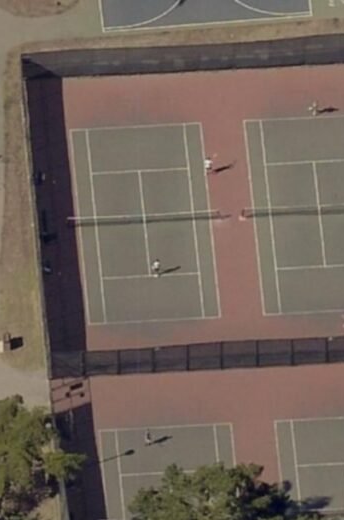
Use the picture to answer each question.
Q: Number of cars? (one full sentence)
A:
I count no cars.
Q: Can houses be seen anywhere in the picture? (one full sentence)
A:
No, the frame has no house in it.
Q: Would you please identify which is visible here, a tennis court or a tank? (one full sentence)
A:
There is a tennis court in the scene.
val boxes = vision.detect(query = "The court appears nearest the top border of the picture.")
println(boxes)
[99,0,313,31]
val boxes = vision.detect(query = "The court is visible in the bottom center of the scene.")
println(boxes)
[100,423,238,520]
